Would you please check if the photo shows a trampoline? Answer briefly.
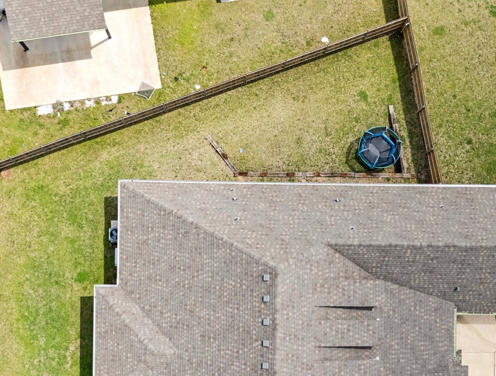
Yes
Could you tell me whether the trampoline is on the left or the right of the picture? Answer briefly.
right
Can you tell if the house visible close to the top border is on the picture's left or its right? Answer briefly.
left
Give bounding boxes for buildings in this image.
[91,177,496,376]
[3,0,112,53]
